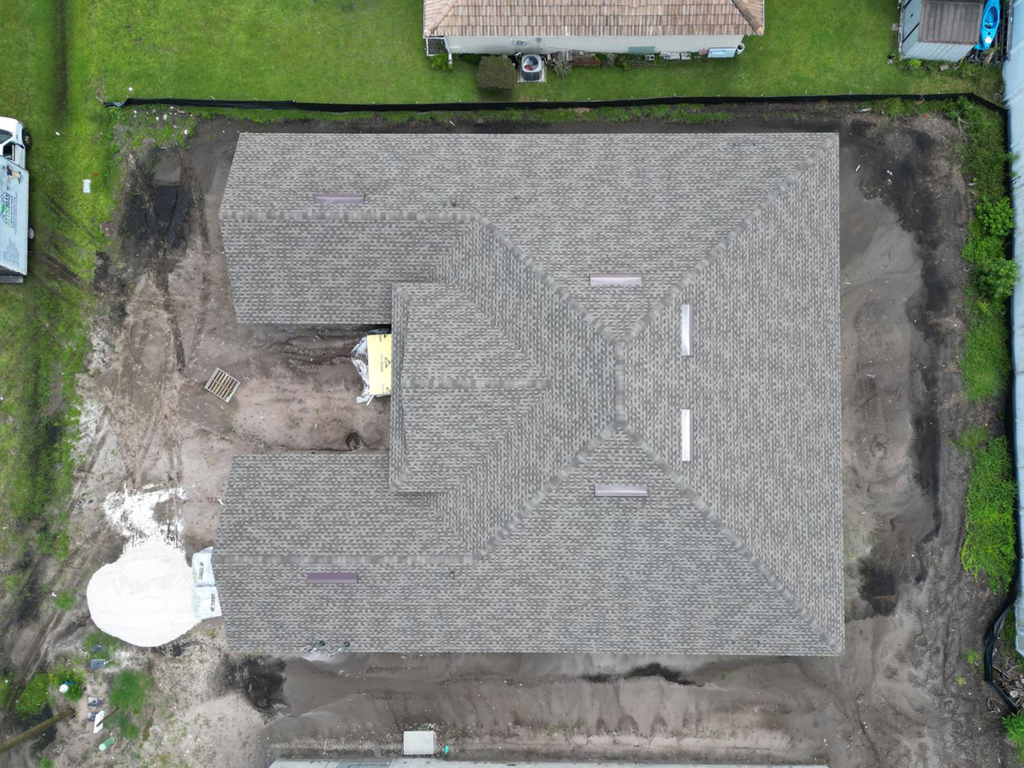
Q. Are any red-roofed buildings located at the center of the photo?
No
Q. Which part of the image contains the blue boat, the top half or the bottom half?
top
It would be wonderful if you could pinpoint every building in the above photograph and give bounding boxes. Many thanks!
[212,132,845,655]
[272,758,828,768]
[902,0,983,62]
[421,0,768,62]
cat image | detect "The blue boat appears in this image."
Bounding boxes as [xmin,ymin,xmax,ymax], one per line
[982,0,1005,49]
